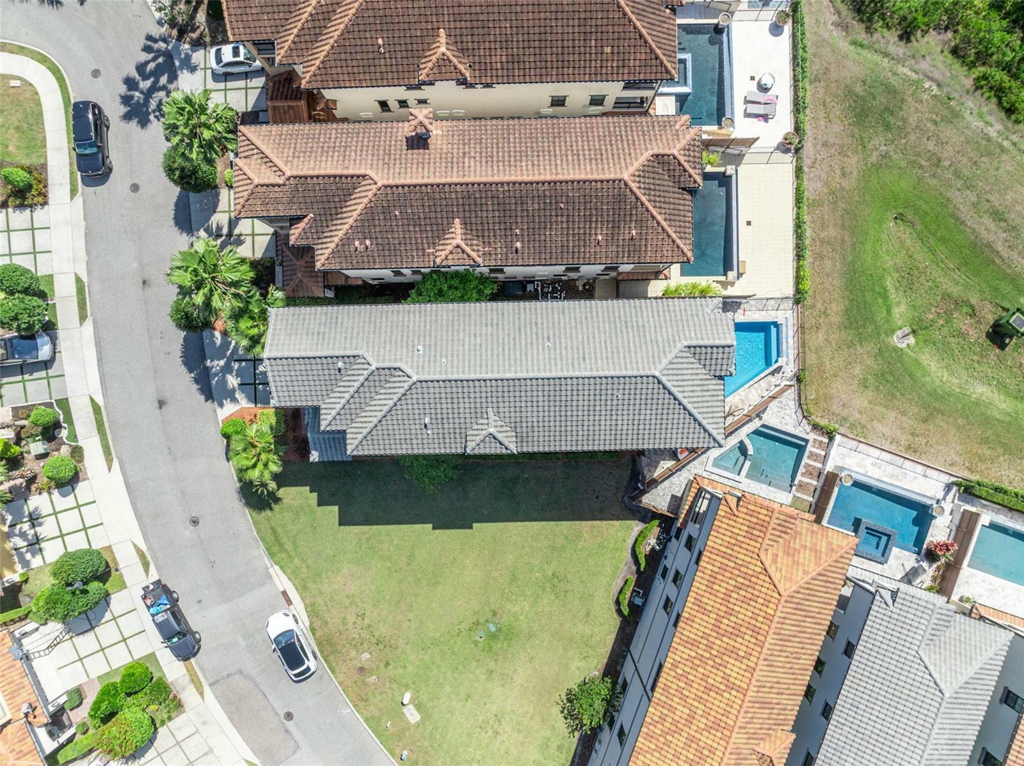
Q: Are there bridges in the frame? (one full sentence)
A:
No, the frame has no bridge in it.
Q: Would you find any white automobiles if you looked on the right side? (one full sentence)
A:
No, looking on the right side, there is no white automobile.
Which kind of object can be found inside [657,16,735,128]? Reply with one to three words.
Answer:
swimming pool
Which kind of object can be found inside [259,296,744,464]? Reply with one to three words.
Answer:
house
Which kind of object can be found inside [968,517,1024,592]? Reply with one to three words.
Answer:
swimming pool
